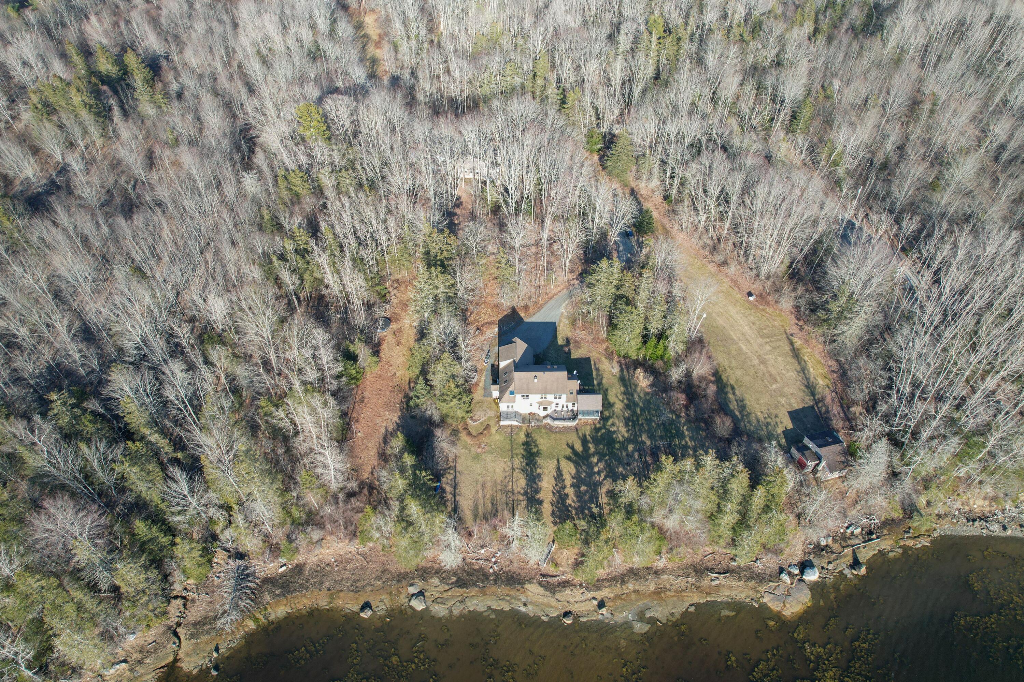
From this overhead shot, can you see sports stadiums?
No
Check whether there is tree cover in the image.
Yes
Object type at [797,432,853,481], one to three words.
barn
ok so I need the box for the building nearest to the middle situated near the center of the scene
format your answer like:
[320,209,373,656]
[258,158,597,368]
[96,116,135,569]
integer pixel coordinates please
[491,337,603,430]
